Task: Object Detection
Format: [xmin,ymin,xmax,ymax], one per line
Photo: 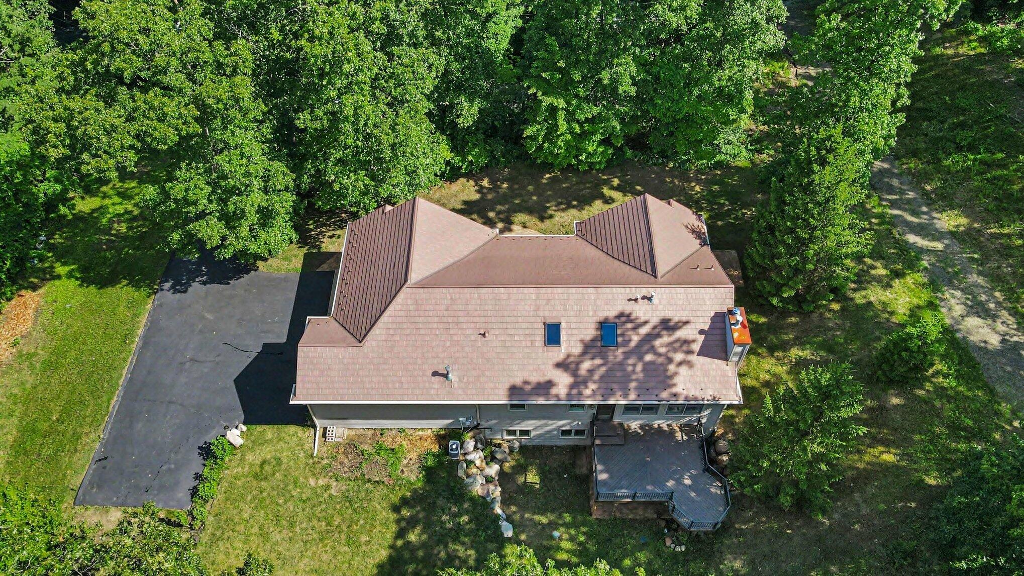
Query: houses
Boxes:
[290,193,752,456]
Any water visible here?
No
